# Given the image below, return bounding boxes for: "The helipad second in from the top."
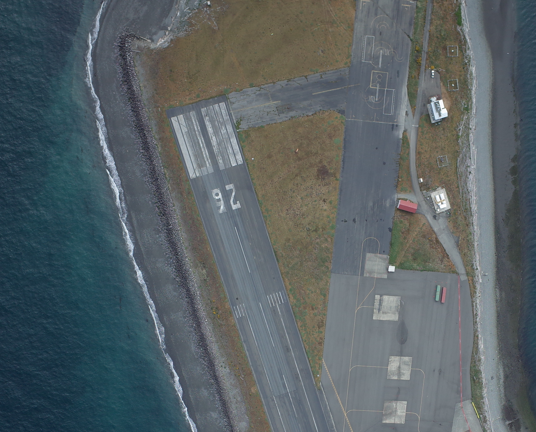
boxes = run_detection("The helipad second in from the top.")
[373,294,400,321]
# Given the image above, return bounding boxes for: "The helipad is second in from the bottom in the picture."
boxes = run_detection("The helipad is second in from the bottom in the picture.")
[387,356,413,380]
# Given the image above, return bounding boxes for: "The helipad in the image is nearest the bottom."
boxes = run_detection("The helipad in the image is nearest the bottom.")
[382,401,407,424]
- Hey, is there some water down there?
Yes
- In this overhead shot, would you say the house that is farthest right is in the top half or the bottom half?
top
